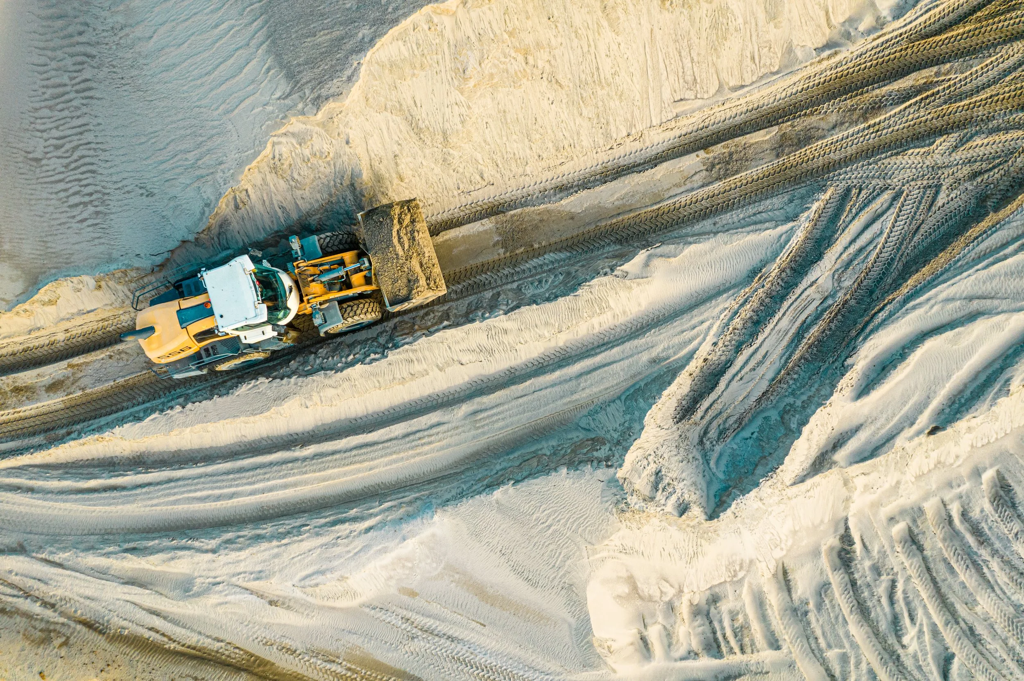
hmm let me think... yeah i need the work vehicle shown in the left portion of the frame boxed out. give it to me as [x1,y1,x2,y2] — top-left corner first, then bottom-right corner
[121,200,447,379]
